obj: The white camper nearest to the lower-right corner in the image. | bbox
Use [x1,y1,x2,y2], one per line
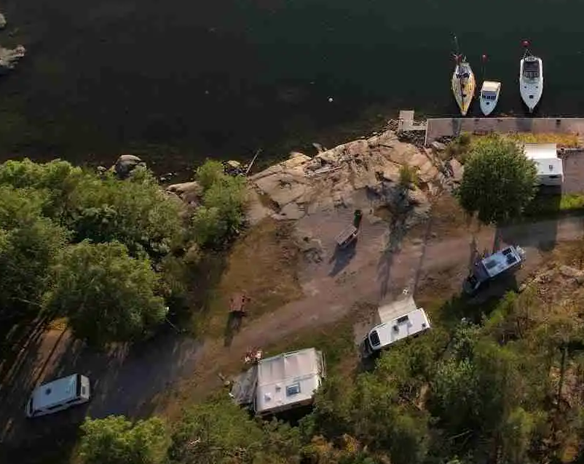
[367,295,435,359]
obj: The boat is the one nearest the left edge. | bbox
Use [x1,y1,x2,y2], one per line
[447,35,476,117]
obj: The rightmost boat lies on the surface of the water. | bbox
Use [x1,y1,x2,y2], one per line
[518,47,544,114]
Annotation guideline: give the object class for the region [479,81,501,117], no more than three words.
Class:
boat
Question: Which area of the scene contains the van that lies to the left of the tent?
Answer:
bottom left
